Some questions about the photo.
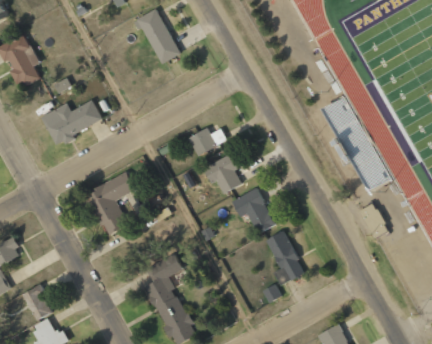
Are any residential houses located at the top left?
Yes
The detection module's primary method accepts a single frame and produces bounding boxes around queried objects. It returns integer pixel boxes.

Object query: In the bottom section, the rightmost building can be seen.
[359,204,390,242]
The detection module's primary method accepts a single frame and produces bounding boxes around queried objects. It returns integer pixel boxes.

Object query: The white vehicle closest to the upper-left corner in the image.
[36,102,54,114]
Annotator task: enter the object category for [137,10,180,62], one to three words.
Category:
house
